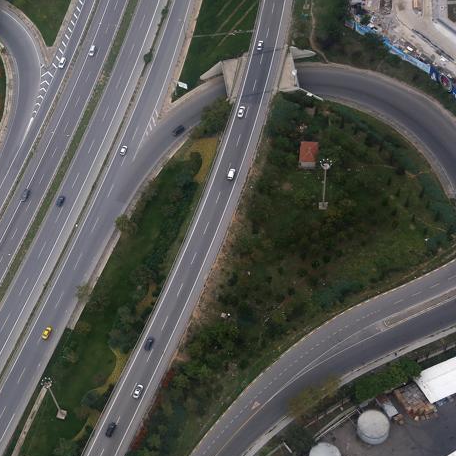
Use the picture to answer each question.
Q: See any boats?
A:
No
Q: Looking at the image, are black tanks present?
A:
No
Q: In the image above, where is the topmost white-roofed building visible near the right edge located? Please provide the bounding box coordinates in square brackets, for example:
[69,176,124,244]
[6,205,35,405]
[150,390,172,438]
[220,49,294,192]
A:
[414,358,456,409]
